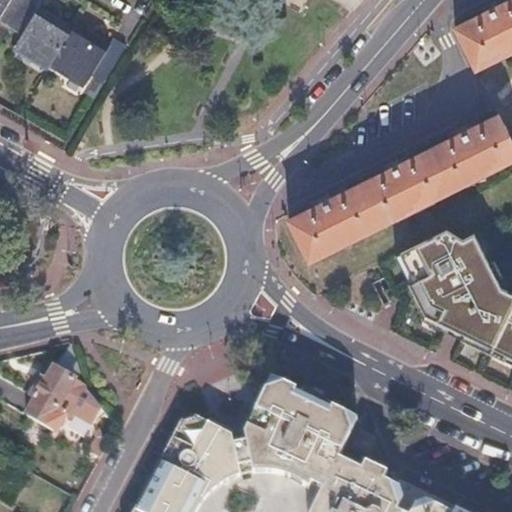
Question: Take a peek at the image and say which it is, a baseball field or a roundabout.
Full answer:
This aerial view contains a roundabout.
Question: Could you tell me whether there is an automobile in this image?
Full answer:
Yes, an automobile is visible in the scene.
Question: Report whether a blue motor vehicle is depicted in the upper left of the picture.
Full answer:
No, no blue motor vehicle can be made out in the upper left of the picture.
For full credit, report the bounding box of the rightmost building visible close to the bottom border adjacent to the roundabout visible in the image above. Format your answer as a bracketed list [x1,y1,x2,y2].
[243,376,472,512]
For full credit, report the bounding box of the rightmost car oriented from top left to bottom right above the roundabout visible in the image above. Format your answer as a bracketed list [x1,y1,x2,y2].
[130,0,148,18]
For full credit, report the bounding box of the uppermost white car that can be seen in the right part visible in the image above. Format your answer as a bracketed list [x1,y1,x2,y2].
[348,34,366,54]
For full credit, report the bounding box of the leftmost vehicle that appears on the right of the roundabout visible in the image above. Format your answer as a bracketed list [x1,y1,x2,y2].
[282,328,302,344]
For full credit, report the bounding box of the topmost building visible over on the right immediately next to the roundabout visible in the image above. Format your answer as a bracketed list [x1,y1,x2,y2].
[289,114,512,265]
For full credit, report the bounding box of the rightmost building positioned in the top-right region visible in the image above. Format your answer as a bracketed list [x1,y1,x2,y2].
[453,0,512,74]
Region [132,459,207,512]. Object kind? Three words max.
building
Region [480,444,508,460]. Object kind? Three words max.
vehicle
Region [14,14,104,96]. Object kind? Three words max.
house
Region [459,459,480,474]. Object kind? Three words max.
car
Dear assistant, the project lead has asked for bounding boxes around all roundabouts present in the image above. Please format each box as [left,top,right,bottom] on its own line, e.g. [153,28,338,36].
[84,169,268,351]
